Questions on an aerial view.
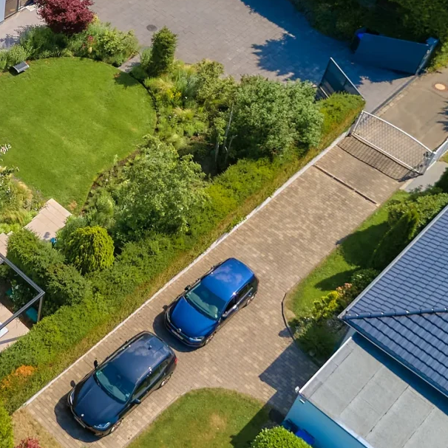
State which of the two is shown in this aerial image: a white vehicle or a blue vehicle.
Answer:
blue vehicle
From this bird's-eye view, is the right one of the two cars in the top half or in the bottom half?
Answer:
bottom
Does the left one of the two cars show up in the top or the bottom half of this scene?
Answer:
bottom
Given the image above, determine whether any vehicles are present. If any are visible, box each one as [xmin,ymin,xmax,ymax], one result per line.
[63,330,181,440]
[154,257,263,354]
